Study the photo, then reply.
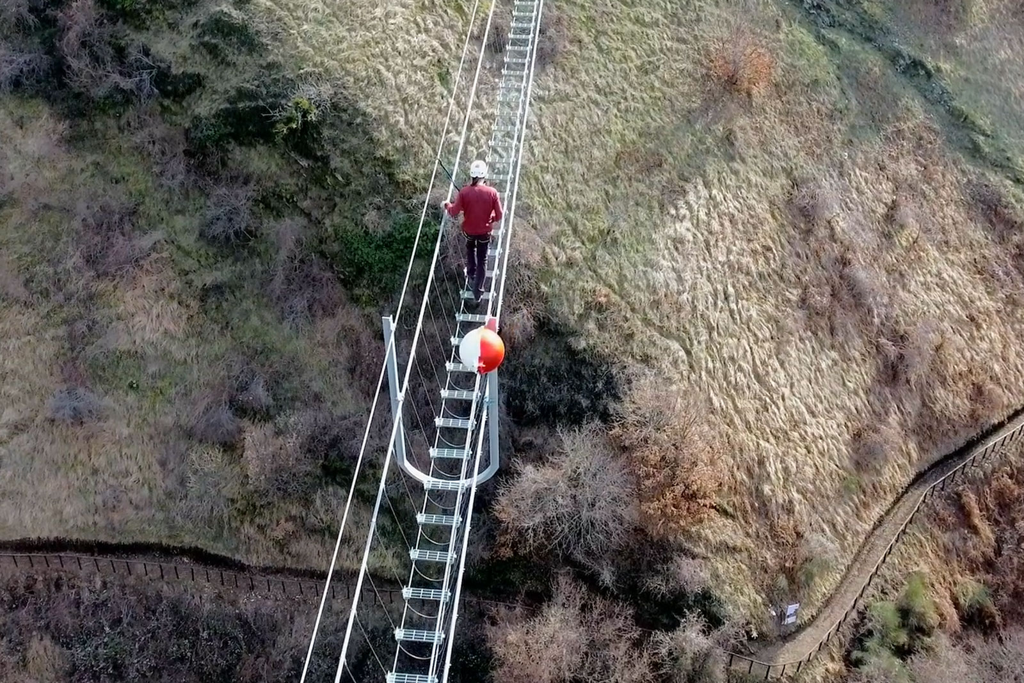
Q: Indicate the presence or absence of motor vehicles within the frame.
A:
No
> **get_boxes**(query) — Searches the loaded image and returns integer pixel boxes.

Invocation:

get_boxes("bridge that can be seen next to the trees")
[301,0,544,683]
